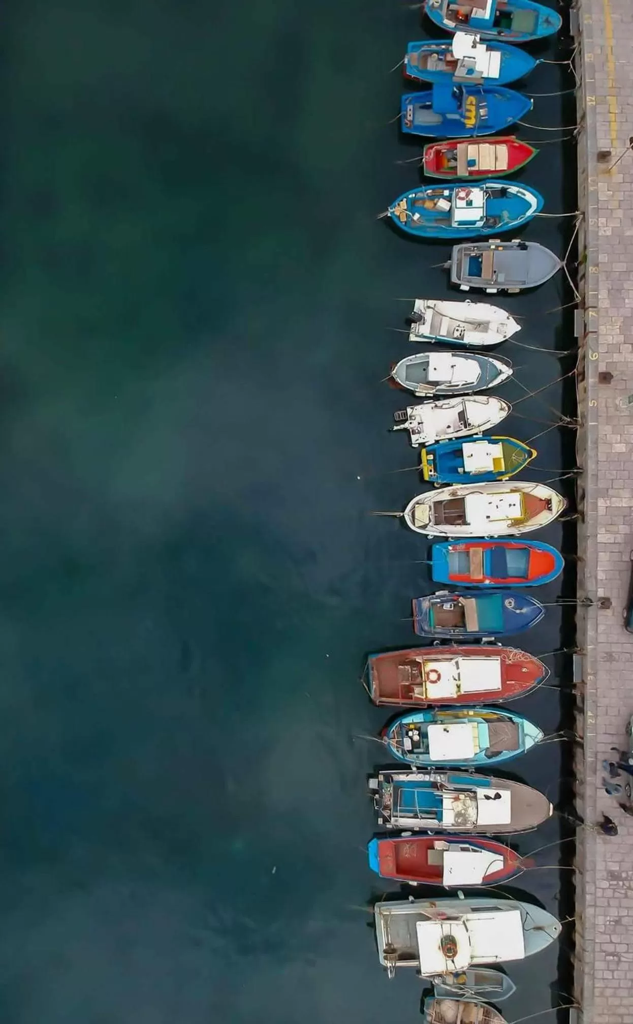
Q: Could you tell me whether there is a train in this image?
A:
No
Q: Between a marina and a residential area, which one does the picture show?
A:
marina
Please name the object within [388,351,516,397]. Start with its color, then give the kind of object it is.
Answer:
white boat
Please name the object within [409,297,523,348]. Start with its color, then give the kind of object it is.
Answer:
white boat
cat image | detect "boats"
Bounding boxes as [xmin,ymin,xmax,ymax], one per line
[403,32,539,87]
[411,589,547,646]
[401,82,534,142]
[368,645,550,708]
[388,179,547,240]
[442,238,564,293]
[409,297,523,348]
[423,135,541,181]
[388,351,516,397]
[381,705,547,770]
[434,966,518,1002]
[432,538,567,587]
[423,0,564,45]
[422,992,508,1024]
[420,436,539,489]
[388,395,514,448]
[398,481,569,541]
[369,765,554,837]
[375,885,565,979]
[368,831,535,891]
